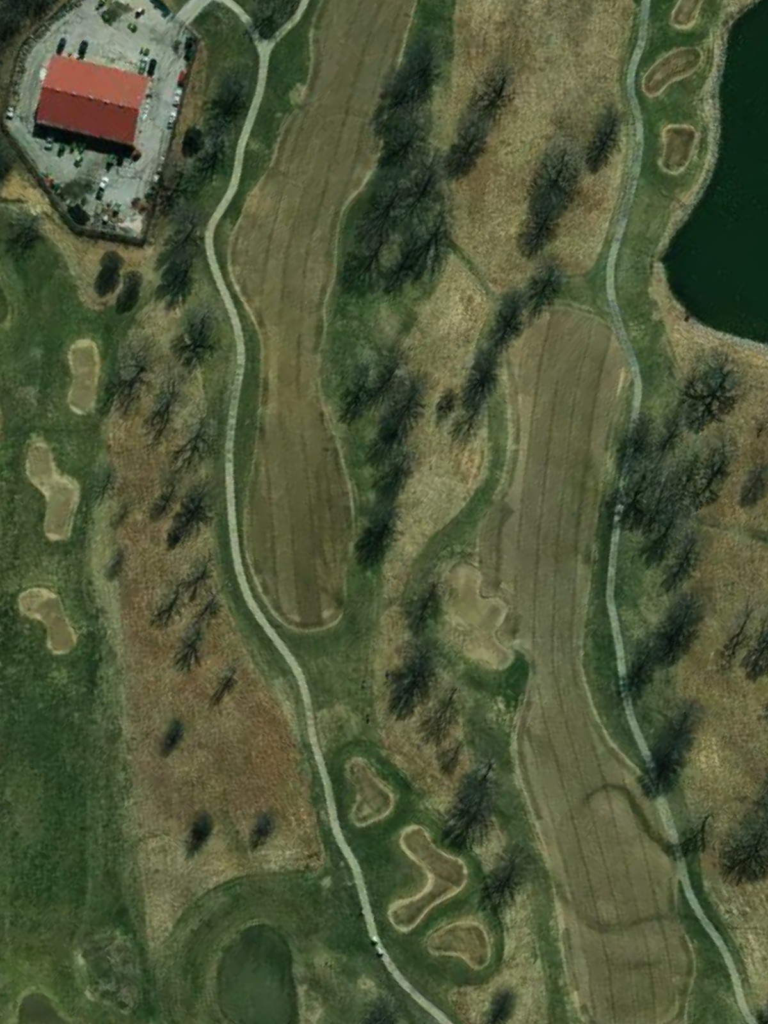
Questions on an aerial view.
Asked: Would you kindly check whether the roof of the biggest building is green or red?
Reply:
red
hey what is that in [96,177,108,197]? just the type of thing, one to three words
vehicle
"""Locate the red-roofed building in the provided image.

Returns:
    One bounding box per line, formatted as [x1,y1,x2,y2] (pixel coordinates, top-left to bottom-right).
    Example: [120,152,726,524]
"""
[35,56,150,144]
